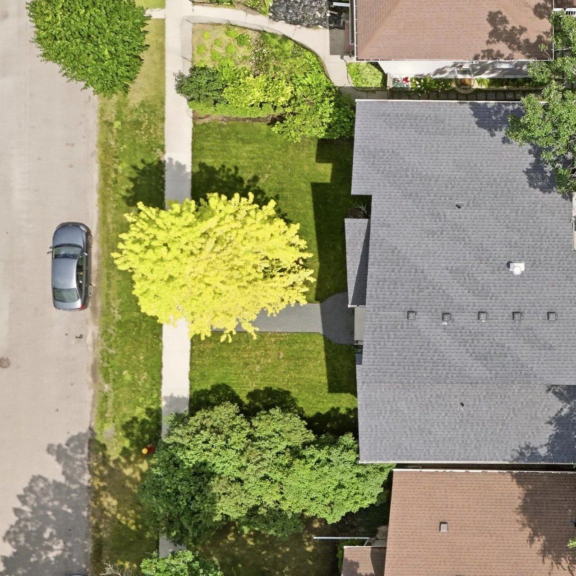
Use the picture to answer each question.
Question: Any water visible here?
No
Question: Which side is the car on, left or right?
left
